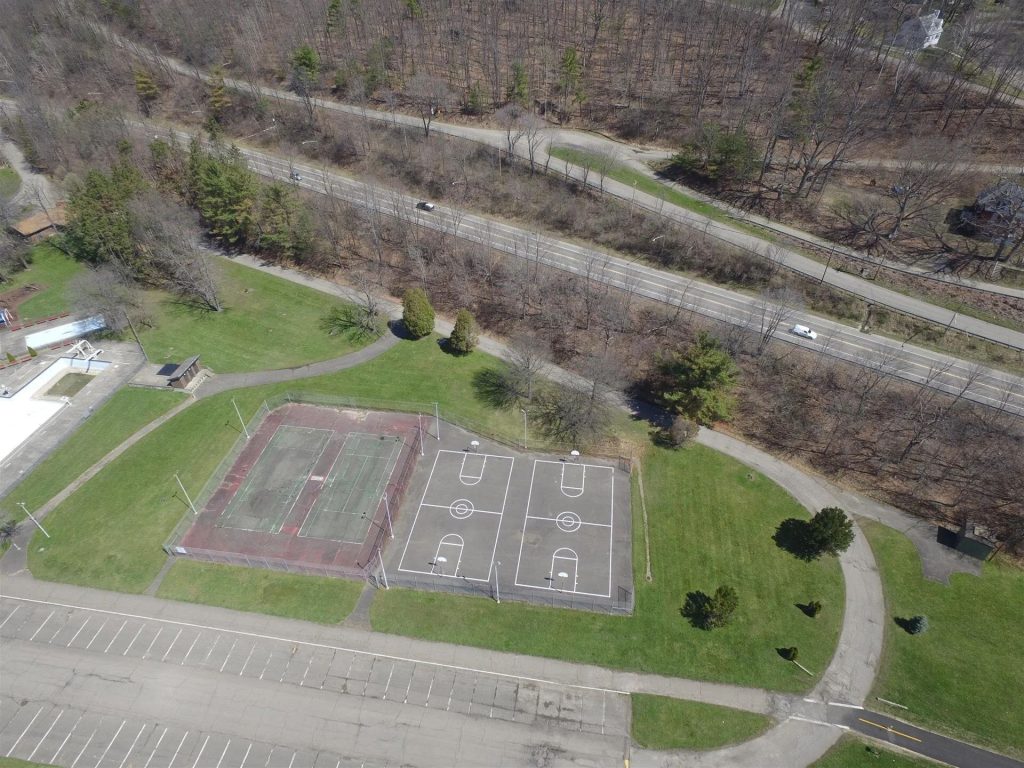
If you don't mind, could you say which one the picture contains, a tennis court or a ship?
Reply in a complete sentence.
It is a tennis court that can be seen here.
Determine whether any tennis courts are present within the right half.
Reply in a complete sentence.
No, within the right half there is no tennis court.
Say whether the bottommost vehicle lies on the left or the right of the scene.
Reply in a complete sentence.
The bottommost vehicle is on the right side of the image.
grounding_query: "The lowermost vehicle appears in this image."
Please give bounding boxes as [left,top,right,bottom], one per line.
[790,321,819,341]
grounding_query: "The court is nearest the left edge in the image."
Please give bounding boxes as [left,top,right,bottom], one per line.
[216,425,334,534]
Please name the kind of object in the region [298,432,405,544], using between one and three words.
tennis court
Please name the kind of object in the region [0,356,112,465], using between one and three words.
swimming pool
